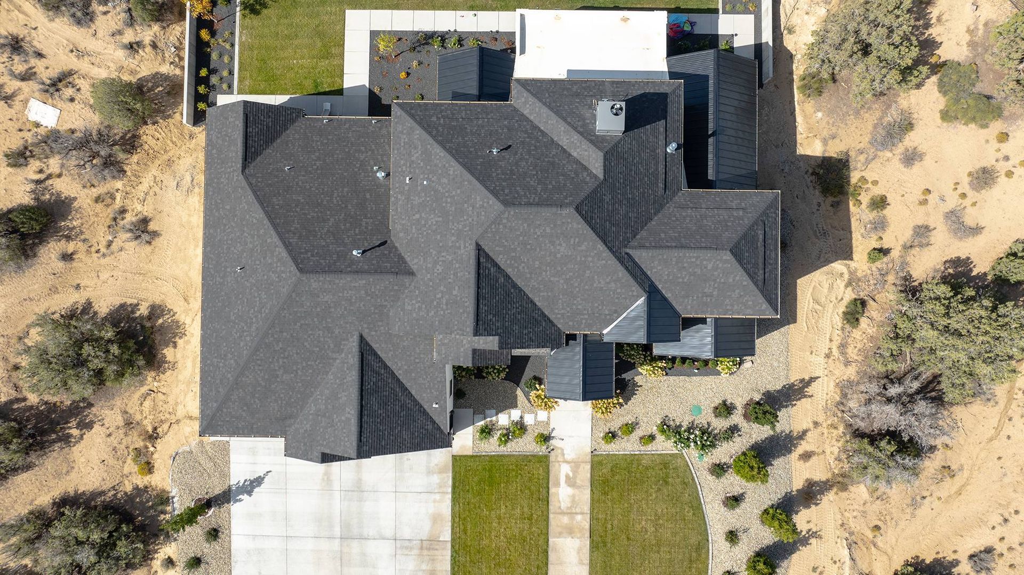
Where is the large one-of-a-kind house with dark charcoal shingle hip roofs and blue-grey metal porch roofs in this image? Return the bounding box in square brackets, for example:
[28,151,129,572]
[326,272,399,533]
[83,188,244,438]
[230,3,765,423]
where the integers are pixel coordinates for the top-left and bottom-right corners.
[197,9,783,464]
